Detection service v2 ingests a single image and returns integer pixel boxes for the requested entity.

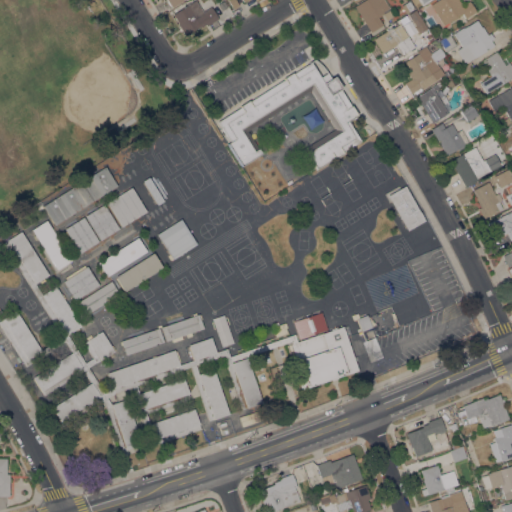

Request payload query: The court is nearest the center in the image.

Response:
[226,236,267,279]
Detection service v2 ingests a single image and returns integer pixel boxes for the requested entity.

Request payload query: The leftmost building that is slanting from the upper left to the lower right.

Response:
[0,314,42,367]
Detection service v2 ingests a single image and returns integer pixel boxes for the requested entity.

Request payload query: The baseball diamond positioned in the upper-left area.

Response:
[0,0,177,236]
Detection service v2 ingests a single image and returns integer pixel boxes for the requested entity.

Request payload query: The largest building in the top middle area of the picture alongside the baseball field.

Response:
[220,61,362,168]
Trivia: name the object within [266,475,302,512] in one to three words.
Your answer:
house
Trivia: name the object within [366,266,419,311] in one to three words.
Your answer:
sports court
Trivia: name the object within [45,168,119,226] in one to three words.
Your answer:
building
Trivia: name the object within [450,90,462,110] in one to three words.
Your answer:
swimming pool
